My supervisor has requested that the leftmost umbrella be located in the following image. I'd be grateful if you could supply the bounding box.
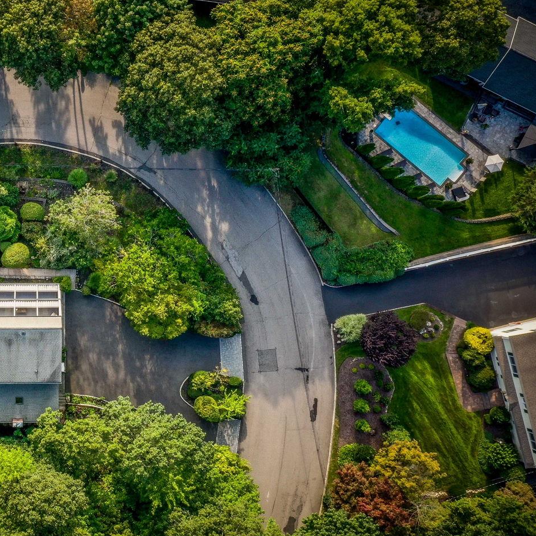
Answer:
[478,154,502,174]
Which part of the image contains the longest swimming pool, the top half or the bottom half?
top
